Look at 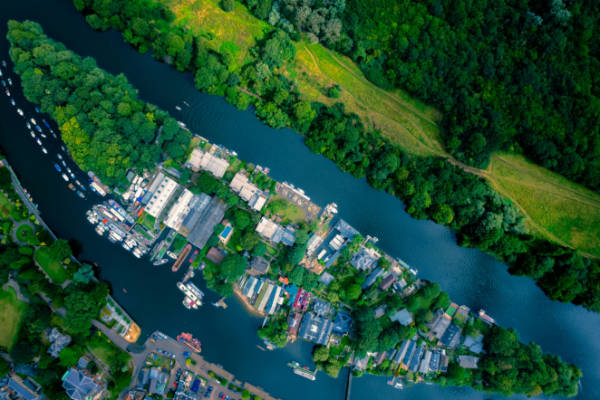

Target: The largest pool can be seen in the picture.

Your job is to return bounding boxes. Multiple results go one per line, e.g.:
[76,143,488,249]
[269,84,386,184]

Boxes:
[217,221,236,243]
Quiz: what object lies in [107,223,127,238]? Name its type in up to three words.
ship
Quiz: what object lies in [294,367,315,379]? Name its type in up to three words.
vessel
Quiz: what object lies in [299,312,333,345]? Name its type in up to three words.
building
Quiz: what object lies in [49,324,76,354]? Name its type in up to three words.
house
